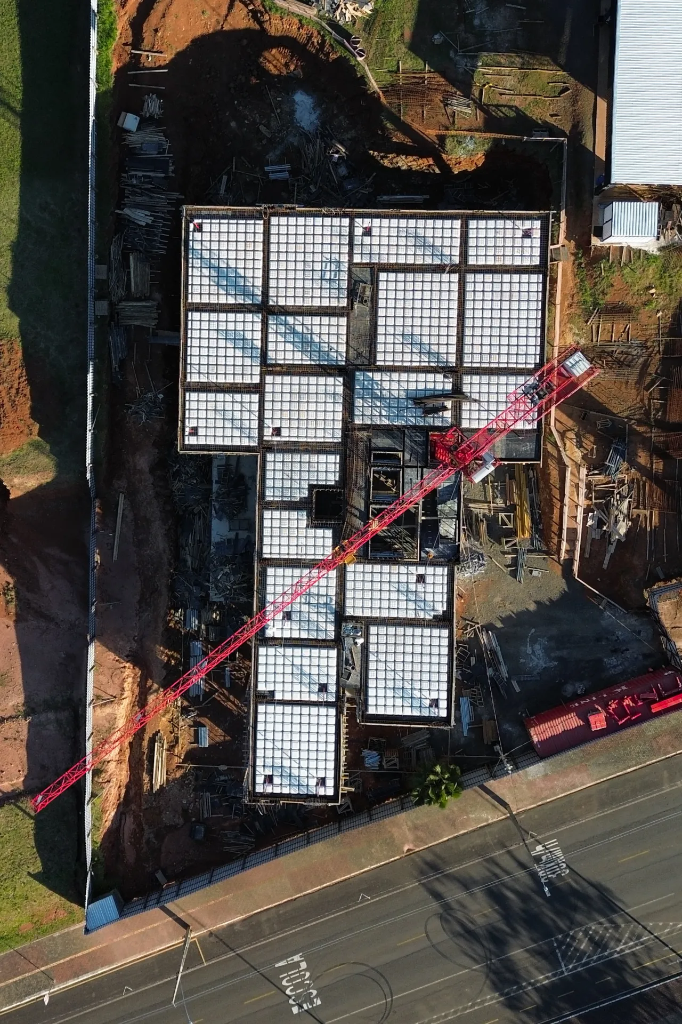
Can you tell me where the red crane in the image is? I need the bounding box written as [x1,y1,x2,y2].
[29,337,603,810]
